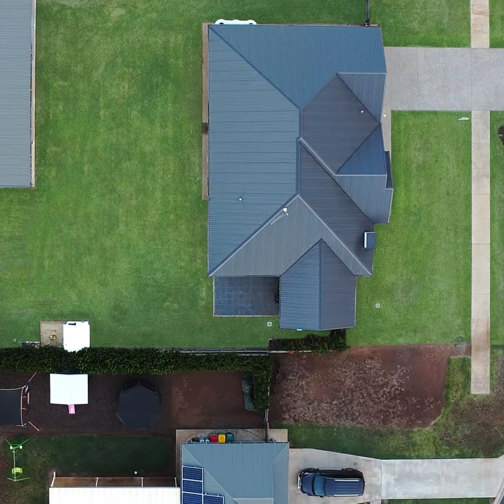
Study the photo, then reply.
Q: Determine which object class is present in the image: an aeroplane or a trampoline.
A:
trampoline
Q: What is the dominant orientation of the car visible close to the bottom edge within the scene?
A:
from left to right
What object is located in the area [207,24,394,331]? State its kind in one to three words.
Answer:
house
